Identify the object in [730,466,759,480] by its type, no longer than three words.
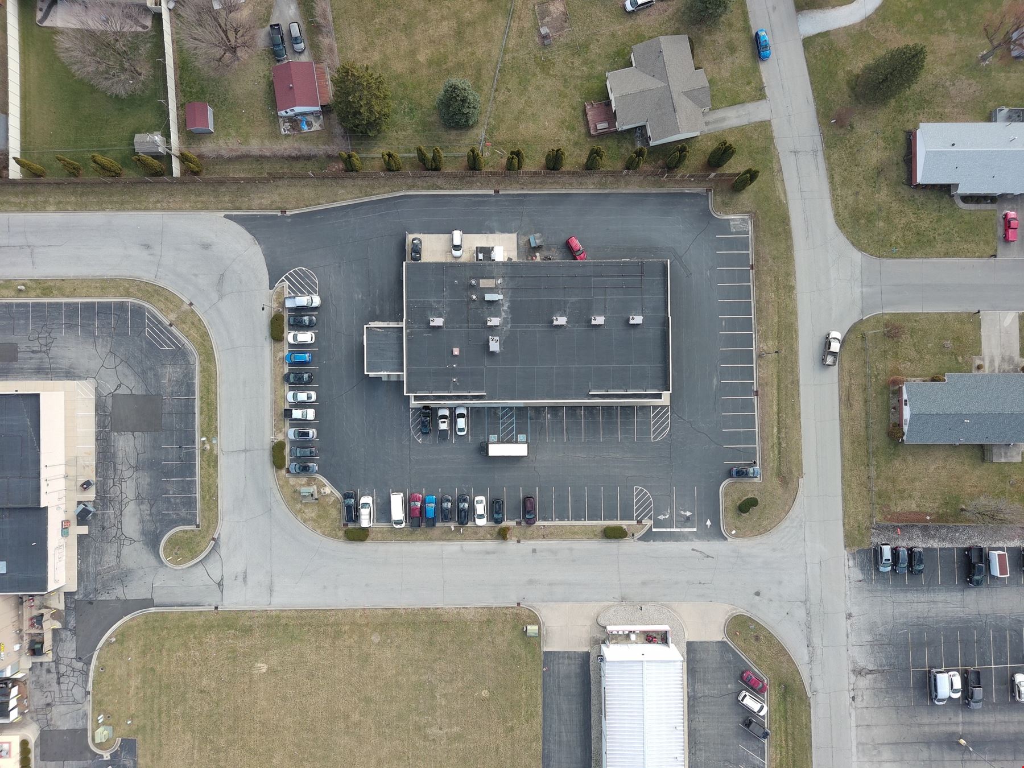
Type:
car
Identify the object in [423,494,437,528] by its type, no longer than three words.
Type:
vehicle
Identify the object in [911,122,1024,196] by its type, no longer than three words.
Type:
house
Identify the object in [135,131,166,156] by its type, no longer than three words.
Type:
building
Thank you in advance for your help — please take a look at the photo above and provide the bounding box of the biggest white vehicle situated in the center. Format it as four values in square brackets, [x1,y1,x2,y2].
[478,443,527,460]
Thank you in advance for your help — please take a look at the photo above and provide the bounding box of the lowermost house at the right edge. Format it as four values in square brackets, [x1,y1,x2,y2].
[897,373,1024,444]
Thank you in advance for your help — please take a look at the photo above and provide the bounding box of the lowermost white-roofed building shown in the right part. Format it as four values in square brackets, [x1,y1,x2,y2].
[601,646,685,768]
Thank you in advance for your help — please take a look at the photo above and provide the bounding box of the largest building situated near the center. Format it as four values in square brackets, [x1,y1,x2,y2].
[404,260,672,406]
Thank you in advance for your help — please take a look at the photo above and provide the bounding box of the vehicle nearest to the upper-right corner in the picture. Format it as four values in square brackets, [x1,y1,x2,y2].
[1001,210,1020,244]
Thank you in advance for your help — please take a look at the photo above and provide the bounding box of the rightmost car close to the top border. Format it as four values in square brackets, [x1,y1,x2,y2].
[754,28,772,61]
